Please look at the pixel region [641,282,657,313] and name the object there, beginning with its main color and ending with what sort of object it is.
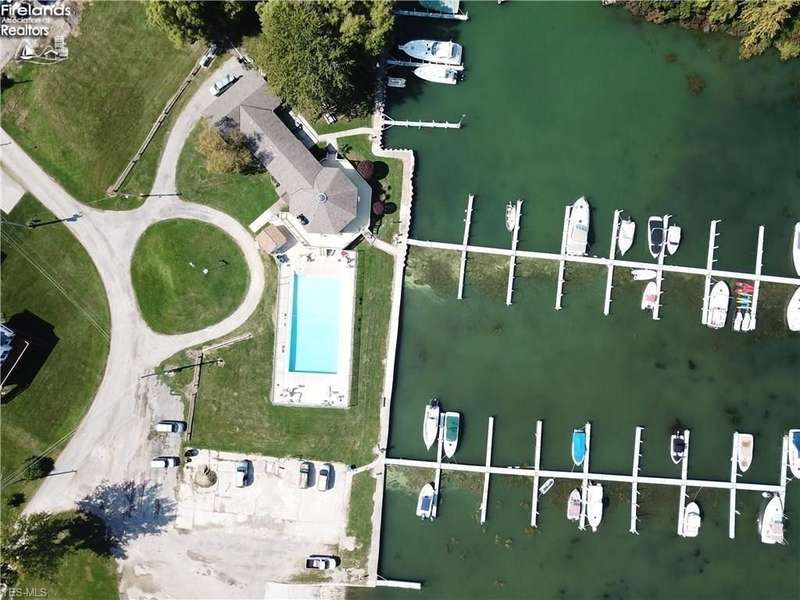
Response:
white boat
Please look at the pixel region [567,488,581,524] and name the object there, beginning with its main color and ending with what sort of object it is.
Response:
white boat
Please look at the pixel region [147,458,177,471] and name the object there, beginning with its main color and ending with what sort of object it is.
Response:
white vehicle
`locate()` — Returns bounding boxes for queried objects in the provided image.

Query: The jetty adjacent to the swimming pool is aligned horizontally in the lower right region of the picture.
[386,412,791,538]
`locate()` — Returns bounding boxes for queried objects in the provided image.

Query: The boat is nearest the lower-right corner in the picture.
[760,498,789,546]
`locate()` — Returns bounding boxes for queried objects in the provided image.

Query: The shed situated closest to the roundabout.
[257,223,288,254]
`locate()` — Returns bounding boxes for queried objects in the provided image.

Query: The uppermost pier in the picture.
[397,7,468,22]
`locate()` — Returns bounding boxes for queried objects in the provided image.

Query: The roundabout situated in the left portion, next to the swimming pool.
[114,202,265,358]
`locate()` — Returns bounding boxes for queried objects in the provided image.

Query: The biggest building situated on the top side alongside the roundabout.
[211,71,378,248]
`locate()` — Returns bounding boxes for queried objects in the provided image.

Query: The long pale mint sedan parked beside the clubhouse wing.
[207,70,239,98]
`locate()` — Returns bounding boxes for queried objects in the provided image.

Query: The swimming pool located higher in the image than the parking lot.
[272,246,358,407]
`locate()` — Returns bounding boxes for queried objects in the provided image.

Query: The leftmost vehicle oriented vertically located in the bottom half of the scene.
[231,461,246,489]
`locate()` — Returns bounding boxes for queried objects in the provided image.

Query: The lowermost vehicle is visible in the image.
[305,557,336,573]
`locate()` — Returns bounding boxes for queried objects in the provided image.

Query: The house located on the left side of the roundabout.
[0,327,34,399]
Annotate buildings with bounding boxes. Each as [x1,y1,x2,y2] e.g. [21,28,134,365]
[211,71,378,248]
[0,327,34,399]
[257,223,288,254]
